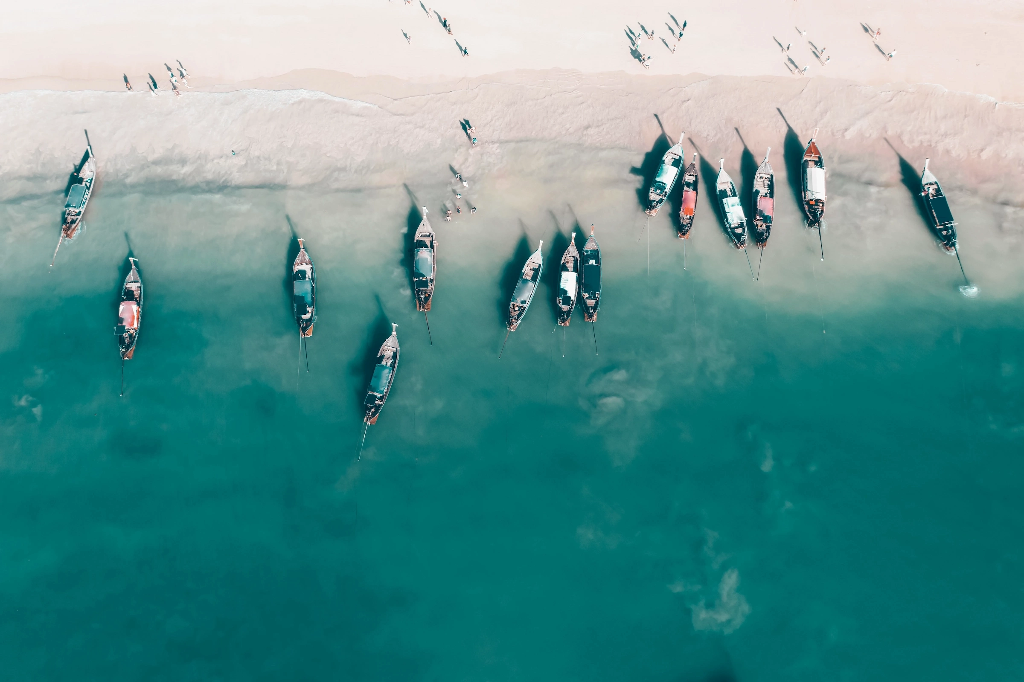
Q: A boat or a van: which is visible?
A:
boat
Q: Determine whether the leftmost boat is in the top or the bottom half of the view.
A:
top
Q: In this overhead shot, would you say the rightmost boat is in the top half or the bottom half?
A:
top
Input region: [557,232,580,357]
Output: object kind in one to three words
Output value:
boat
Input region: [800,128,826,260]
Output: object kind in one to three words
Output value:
boat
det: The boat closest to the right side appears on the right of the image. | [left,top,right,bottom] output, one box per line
[919,157,968,285]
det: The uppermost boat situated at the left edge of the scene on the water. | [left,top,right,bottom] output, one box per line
[50,146,99,267]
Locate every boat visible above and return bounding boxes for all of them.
[50,146,99,267]
[498,240,543,359]
[413,205,437,346]
[557,232,580,357]
[113,257,145,397]
[357,322,401,461]
[678,153,699,251]
[800,128,826,260]
[580,223,602,355]
[293,238,318,372]
[637,131,685,242]
[714,158,755,280]
[751,146,775,281]
[919,157,968,285]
